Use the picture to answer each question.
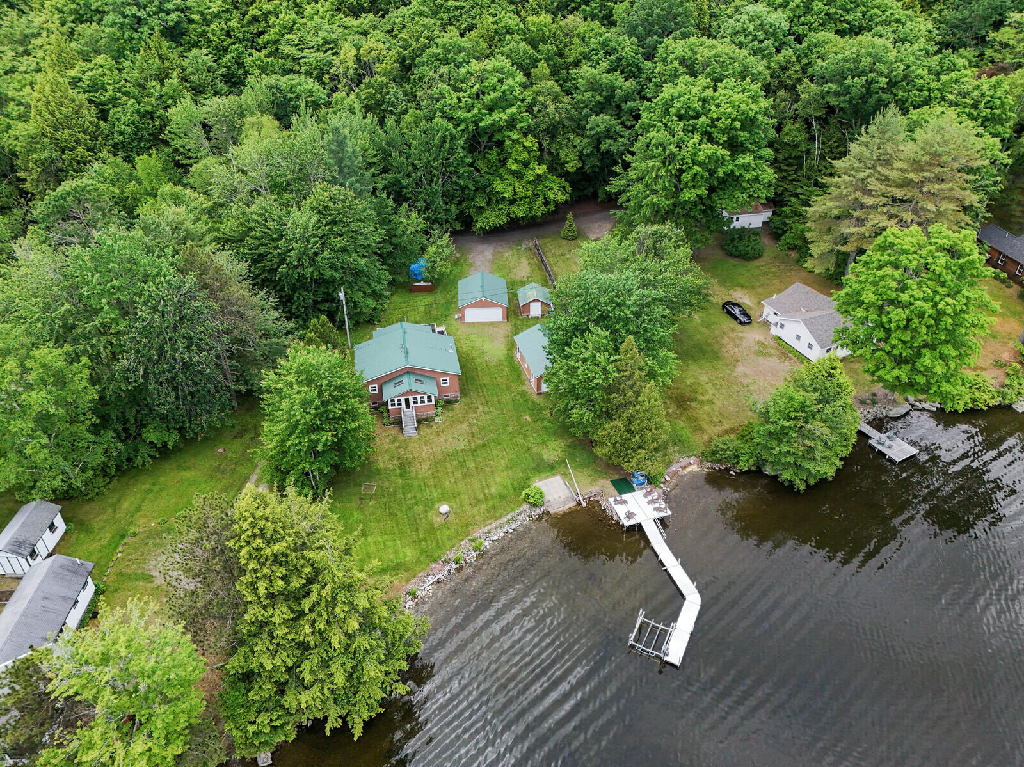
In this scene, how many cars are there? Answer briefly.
1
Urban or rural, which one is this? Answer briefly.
rural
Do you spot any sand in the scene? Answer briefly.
No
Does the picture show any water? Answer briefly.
Yes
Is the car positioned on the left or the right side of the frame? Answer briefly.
right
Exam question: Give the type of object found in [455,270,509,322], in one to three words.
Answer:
building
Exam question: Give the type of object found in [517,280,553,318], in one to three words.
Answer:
shed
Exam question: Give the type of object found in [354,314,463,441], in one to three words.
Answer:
house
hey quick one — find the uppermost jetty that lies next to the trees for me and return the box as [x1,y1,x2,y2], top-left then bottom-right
[859,422,919,466]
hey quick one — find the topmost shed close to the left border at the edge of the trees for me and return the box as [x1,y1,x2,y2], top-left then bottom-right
[0,496,59,581]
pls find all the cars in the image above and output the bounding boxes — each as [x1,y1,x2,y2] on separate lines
[719,300,757,323]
